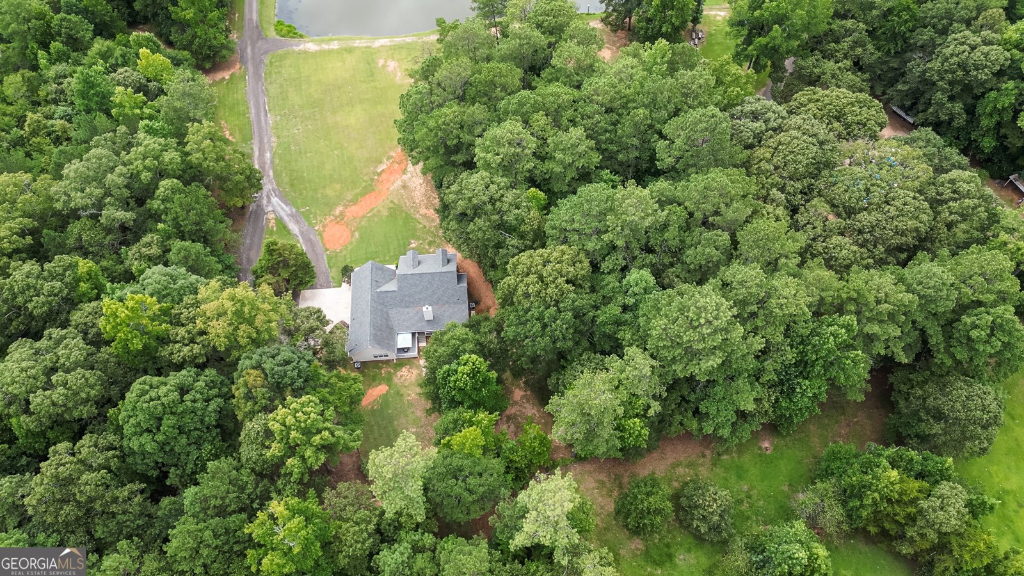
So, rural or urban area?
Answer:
rural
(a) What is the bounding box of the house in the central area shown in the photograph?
[344,248,470,365]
